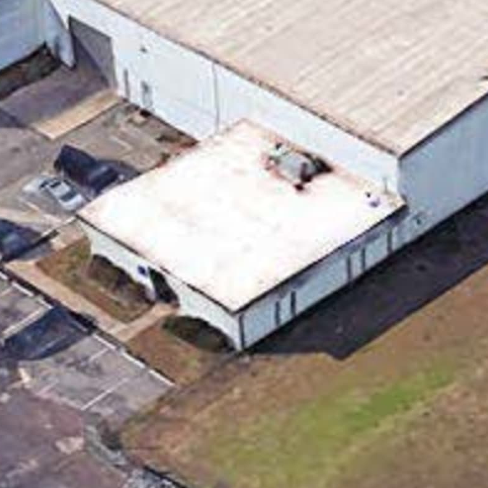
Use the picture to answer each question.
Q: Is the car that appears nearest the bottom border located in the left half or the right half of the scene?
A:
left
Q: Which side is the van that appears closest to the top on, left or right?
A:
left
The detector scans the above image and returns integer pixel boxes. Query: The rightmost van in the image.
[56,148,119,198]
